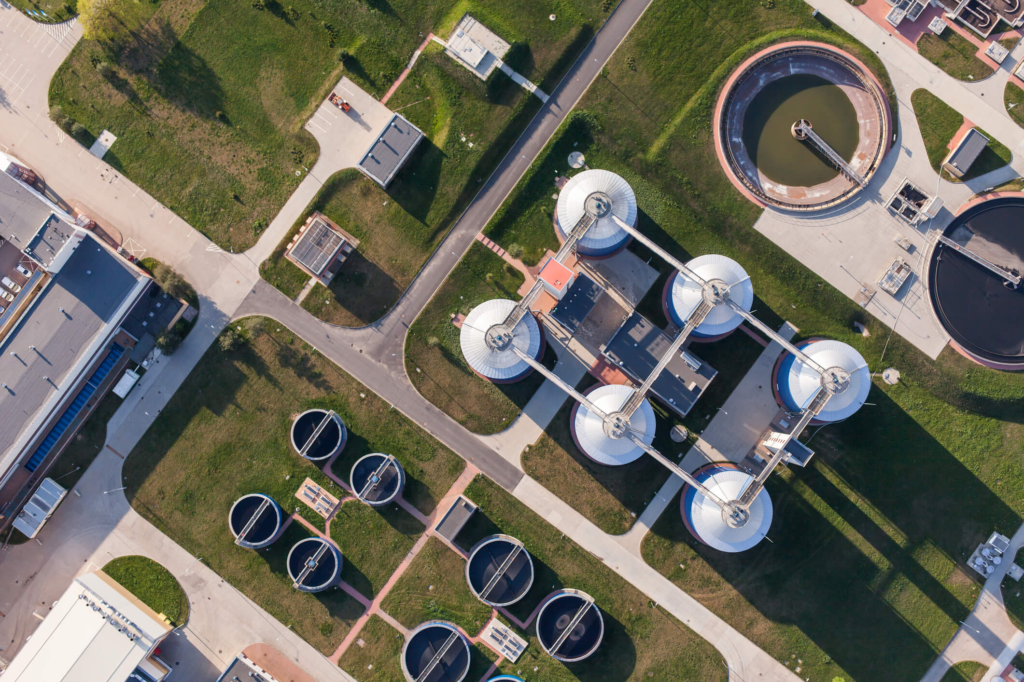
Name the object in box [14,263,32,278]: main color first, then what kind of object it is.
white car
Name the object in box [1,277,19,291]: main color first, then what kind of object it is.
white car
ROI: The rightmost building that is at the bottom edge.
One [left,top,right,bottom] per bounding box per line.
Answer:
[217,651,282,682]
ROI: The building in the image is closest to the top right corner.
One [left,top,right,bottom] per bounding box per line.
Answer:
[941,127,989,178]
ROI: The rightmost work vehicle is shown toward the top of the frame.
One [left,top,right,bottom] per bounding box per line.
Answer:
[324,89,352,111]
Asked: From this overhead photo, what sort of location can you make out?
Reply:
industrial area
